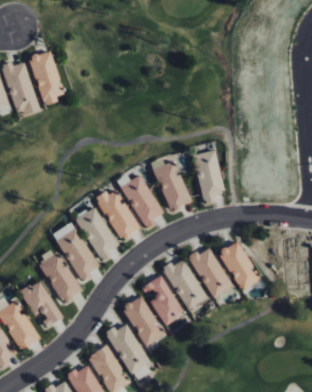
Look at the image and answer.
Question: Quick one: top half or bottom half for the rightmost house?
bottom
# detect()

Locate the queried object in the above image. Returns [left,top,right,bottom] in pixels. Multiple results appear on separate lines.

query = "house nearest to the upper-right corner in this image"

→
[195,144,226,200]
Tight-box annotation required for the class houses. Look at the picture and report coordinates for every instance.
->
[0,298,42,350]
[2,59,42,114]
[40,250,84,303]
[108,323,153,381]
[90,346,131,392]
[154,161,192,210]
[166,259,210,311]
[144,277,186,326]
[53,222,100,280]
[190,247,234,299]
[22,282,63,328]
[124,296,165,346]
[220,240,262,291]
[117,174,164,224]
[68,365,104,392]
[99,188,142,240]
[78,208,120,258]
[0,326,18,366]
[195,144,226,200]
[0,76,12,116]
[29,52,66,104]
